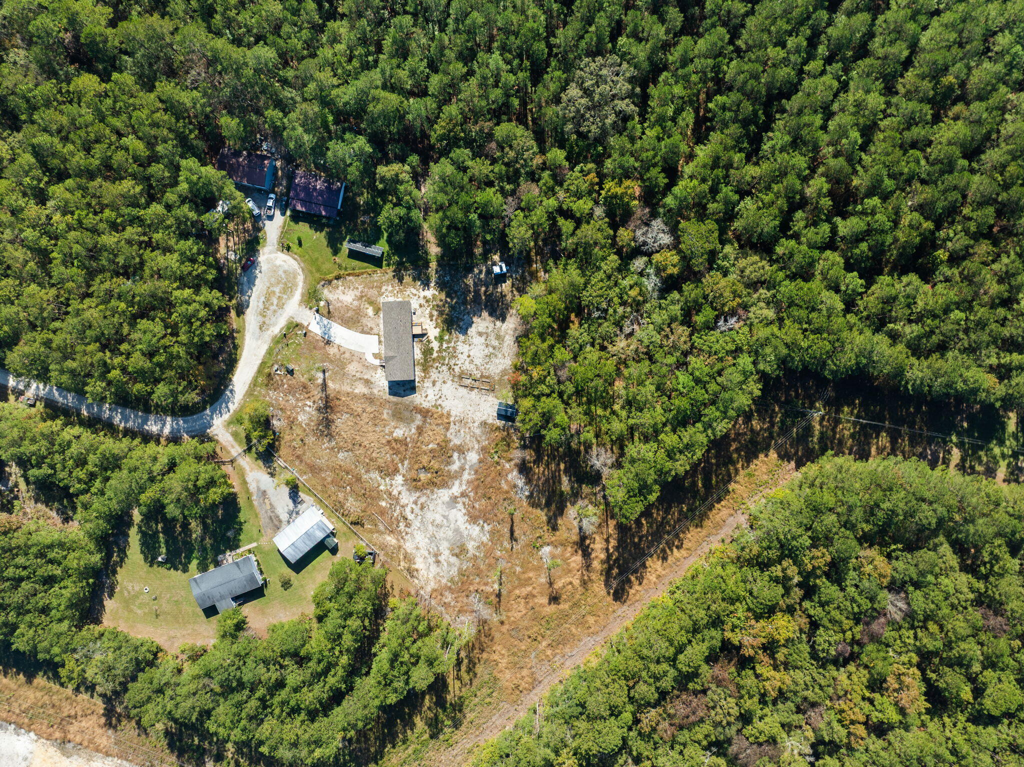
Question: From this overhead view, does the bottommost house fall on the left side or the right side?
left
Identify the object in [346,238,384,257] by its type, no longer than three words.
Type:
shed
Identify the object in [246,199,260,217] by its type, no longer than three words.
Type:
car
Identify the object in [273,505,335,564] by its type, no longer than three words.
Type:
barn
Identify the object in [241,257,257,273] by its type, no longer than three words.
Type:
car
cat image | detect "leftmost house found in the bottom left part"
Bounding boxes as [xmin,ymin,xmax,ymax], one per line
[189,555,261,609]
